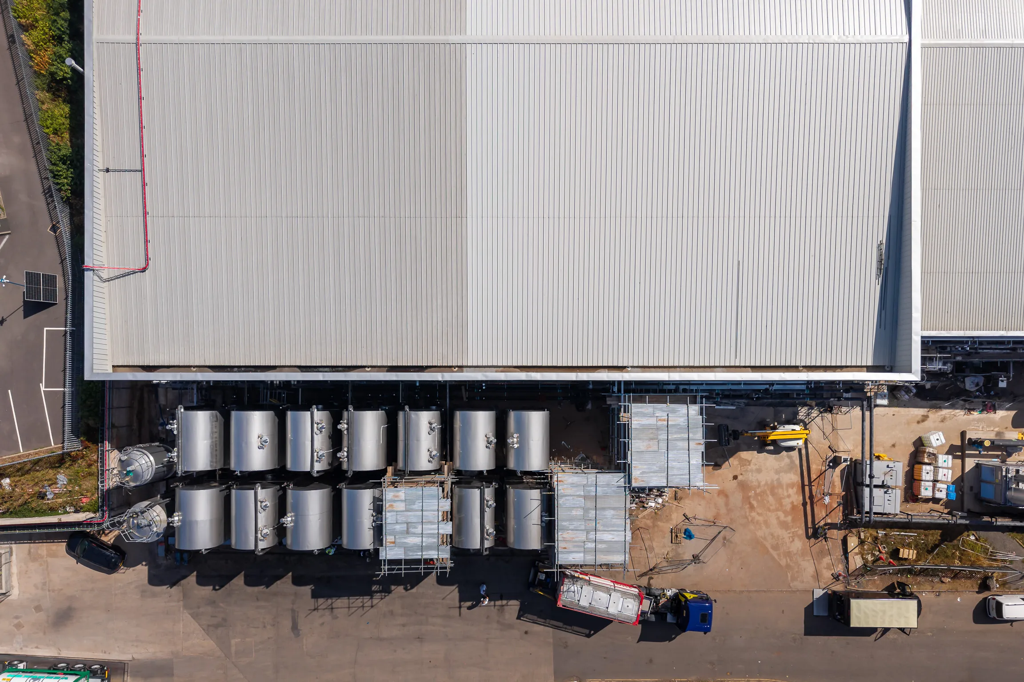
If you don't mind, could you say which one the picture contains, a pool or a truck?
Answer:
truck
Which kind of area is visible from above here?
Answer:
industrial area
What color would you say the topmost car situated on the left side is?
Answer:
black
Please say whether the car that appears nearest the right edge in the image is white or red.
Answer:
white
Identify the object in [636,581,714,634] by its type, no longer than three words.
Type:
vehicle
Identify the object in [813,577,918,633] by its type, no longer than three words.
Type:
truck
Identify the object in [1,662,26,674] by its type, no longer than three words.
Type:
vehicle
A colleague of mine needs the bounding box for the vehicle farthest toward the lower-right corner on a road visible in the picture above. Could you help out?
[982,592,1024,619]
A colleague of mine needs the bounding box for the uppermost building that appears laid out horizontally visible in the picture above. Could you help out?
[84,0,920,380]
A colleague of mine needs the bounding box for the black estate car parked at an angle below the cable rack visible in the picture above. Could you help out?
[69,529,130,575]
